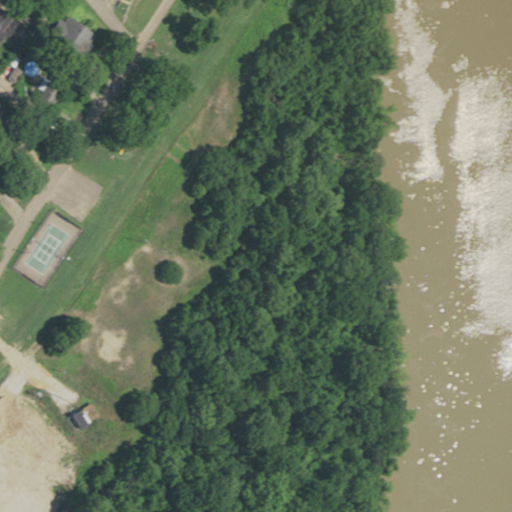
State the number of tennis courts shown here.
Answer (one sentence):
In total, 1 tennis court can be seen.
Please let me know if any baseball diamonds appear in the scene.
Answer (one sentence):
No, the picture doesn't show any baseball diamond.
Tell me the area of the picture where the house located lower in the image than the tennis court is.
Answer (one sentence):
The house located lower in the image than the tennis court is located in the bottom left region of the scene.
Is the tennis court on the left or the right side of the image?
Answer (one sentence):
The tennis court sits on the left side.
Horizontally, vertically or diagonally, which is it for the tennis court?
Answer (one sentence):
The tennis court is oriented diagonally.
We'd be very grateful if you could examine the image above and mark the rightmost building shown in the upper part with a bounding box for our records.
[60,19,94,53]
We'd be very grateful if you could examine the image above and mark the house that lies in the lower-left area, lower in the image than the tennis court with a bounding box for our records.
[74,404,100,429]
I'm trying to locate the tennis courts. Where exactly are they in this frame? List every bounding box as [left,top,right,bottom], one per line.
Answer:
[14,210,82,288]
